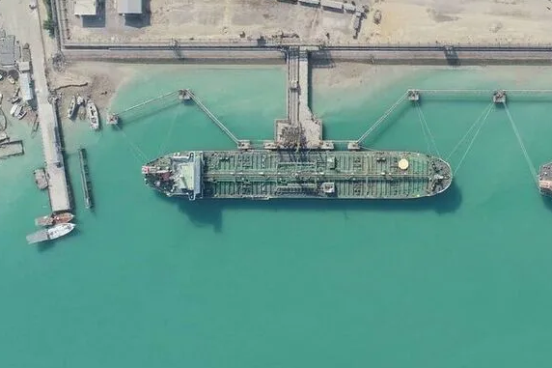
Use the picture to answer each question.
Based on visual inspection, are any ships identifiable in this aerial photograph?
Yes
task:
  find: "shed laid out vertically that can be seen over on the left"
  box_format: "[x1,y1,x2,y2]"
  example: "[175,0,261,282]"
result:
[20,72,37,100]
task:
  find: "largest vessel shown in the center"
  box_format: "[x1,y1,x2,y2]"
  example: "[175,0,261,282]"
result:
[141,149,454,200]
